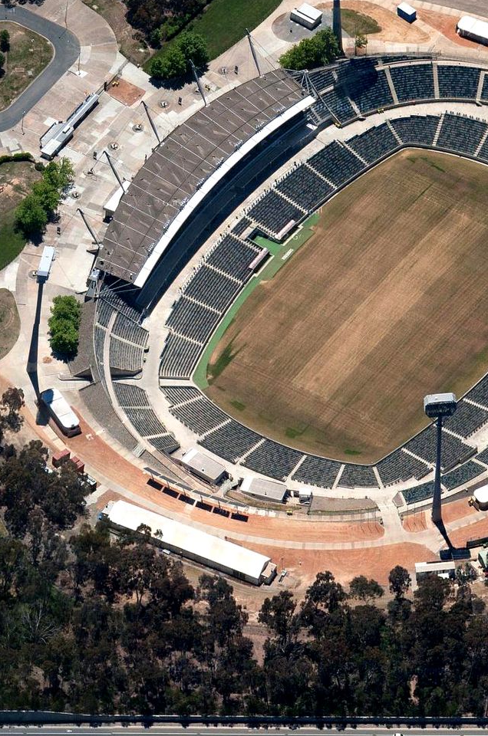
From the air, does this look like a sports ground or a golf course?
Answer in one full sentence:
The picture captures a sports ground.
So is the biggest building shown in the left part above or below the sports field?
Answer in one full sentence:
The biggest building shown in the left part is found below the sports field in the photo.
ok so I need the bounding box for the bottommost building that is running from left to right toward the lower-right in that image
[415,561,456,578]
